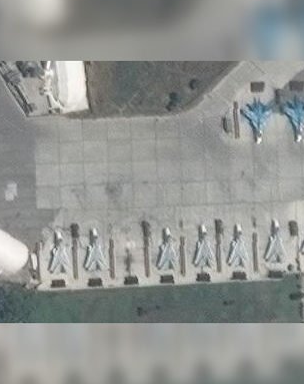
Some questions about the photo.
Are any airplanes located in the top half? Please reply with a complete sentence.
Yes, I can see an airplane in the top half.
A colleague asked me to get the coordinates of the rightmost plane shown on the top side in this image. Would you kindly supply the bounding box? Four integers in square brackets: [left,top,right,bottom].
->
[283,98,304,142]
